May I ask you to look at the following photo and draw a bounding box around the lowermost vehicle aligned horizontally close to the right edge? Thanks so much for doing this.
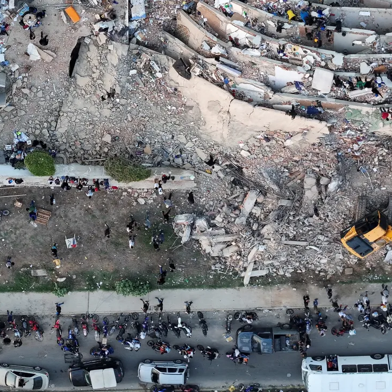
[301,355,392,392]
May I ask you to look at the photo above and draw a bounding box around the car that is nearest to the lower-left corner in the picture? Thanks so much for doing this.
[0,364,49,391]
